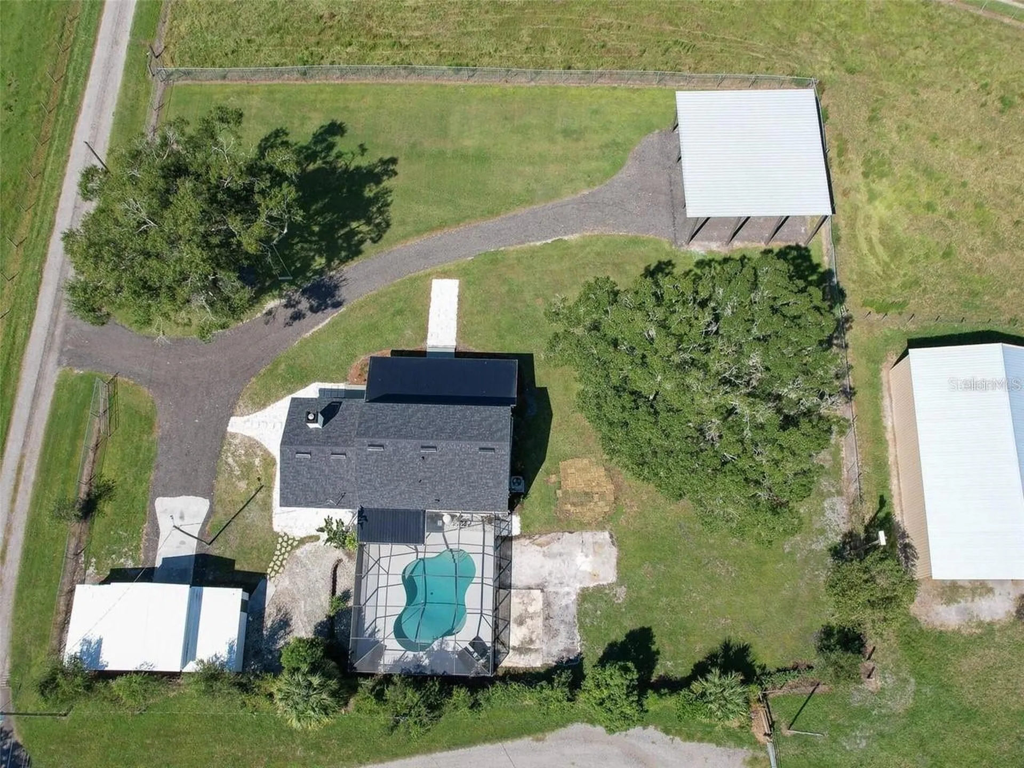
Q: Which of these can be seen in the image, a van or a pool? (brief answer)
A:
pool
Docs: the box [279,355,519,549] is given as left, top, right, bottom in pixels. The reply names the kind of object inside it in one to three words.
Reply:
house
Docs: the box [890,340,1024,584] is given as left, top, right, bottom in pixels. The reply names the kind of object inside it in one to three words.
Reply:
barn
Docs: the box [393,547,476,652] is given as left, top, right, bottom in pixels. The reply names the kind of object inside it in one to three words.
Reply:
swimming pool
